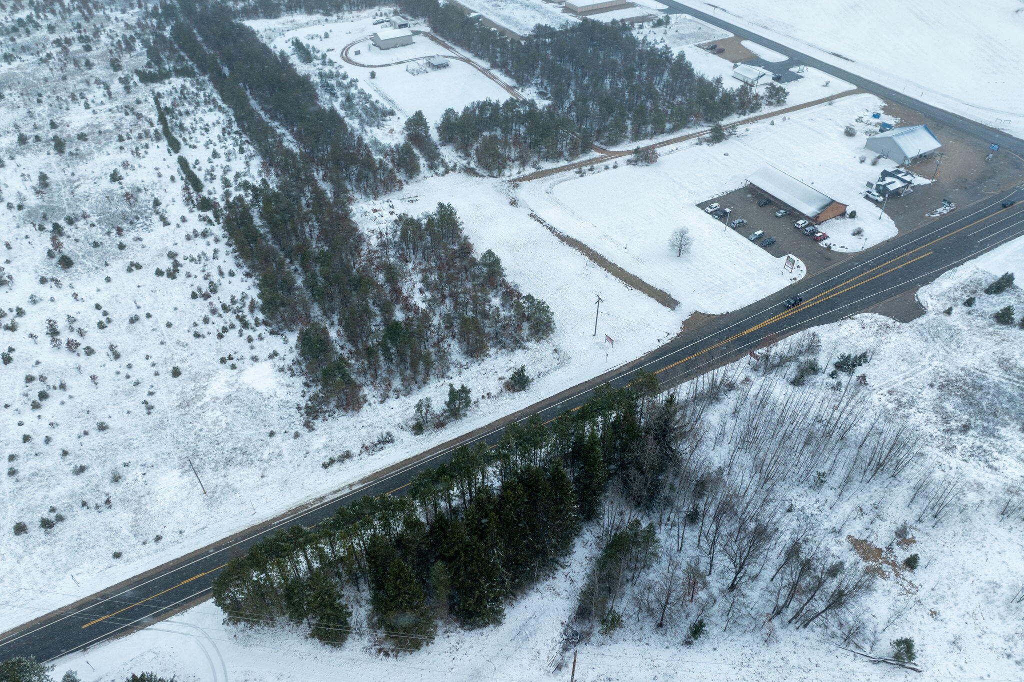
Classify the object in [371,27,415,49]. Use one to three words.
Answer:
building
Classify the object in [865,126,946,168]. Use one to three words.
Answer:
building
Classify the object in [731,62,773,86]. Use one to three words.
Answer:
house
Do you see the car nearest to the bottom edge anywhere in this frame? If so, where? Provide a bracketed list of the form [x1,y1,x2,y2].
[786,295,803,307]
